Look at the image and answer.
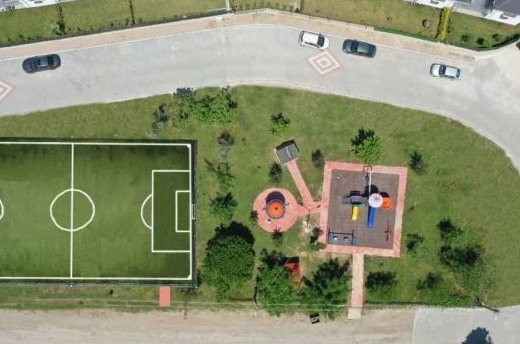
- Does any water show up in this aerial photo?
No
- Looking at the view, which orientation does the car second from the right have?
horizontally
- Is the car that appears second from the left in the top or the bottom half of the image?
top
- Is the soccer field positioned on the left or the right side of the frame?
left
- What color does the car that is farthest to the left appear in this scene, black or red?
black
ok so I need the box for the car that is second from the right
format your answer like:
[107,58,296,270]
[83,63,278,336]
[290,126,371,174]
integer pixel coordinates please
[342,38,378,59]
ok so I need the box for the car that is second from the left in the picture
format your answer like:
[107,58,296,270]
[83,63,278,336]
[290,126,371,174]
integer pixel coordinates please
[297,30,330,51]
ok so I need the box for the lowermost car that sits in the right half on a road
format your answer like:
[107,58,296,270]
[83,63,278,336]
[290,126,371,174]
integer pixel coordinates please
[429,62,461,81]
